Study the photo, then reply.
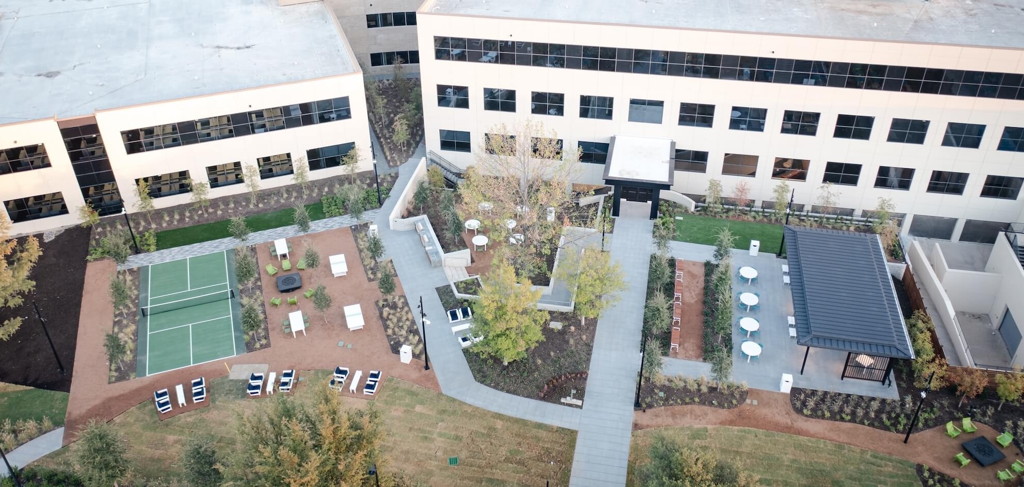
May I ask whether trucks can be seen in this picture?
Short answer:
No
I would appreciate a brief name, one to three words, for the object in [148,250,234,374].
sports court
